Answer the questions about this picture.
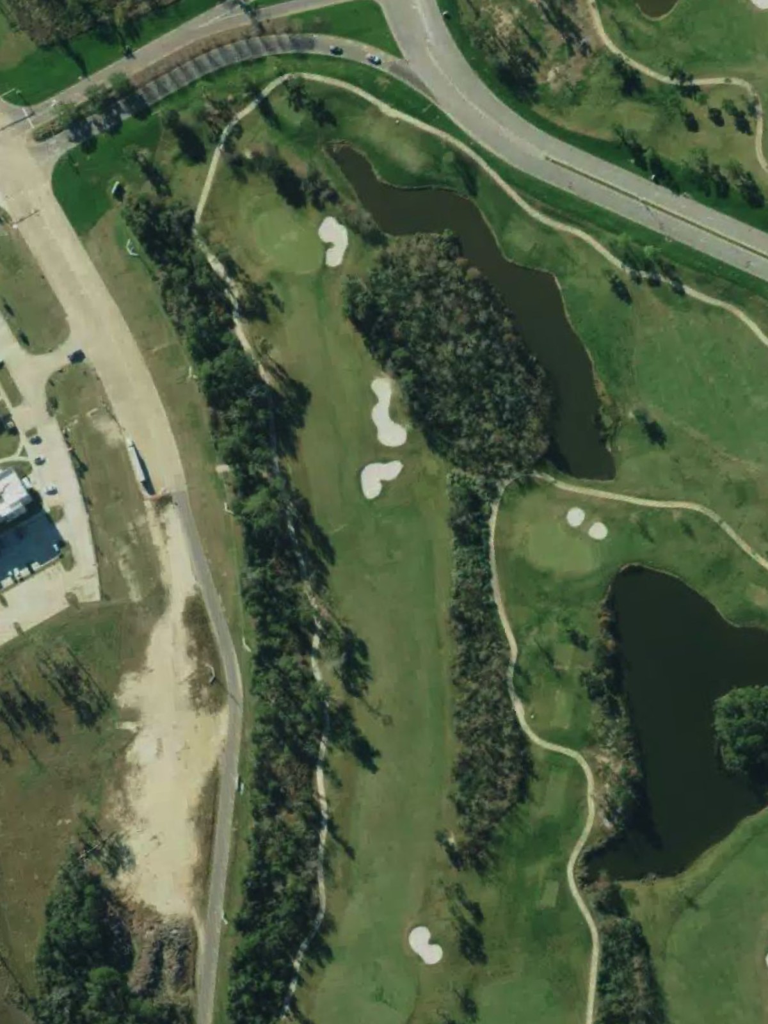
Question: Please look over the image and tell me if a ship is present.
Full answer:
No, there is no ship in the image.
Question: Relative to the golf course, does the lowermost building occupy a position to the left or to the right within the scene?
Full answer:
From the viewer's perspective, the lowermost building falls to the left of the golf course.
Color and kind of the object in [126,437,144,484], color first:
white vehicle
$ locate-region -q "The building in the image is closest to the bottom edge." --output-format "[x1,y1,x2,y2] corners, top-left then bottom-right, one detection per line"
[0,469,31,521]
